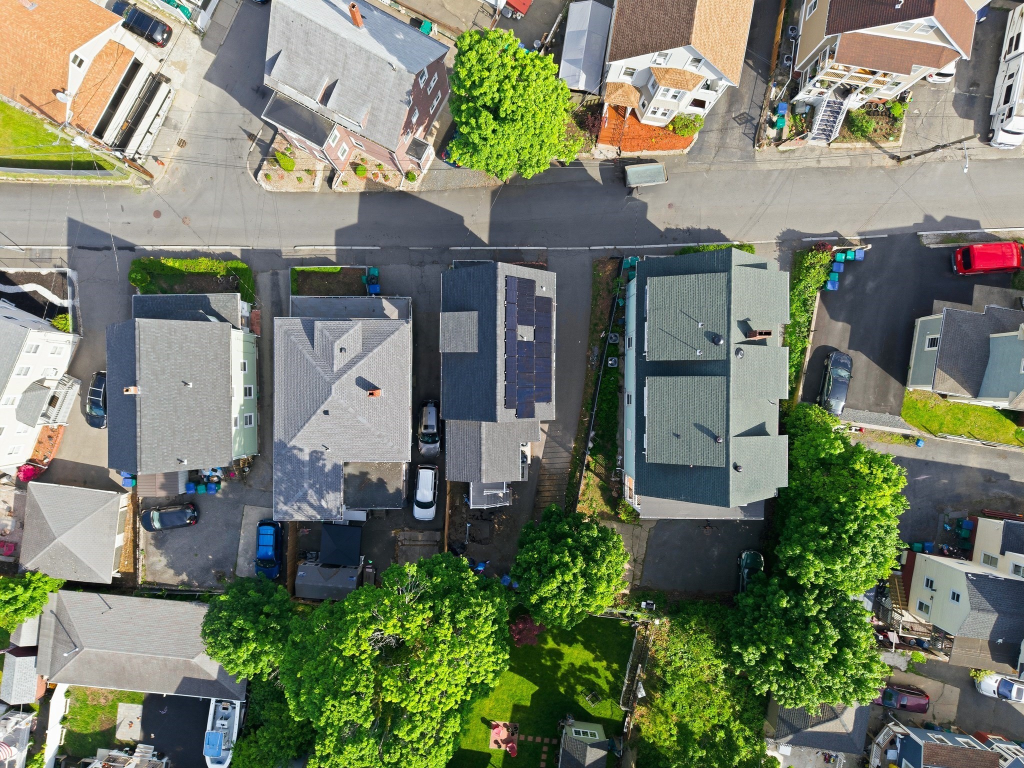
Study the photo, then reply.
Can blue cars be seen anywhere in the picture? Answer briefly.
Yes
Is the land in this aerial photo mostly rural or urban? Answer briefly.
urban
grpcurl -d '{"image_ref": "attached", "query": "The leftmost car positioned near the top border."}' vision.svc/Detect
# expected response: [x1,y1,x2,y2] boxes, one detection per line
[116,3,176,46]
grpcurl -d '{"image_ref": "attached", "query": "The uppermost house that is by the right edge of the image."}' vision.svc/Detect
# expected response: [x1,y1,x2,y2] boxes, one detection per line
[777,0,978,143]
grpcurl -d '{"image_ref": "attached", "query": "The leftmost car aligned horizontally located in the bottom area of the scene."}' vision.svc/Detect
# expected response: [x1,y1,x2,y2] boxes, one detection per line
[143,502,199,533]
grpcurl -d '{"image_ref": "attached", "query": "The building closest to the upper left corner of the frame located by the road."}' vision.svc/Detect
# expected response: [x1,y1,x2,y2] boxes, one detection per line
[0,0,173,157]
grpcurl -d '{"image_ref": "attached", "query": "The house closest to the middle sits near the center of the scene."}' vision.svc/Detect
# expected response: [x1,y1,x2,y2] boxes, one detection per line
[439,260,557,511]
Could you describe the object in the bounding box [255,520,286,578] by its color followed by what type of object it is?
blue car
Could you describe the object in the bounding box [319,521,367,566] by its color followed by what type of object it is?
black gazebo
